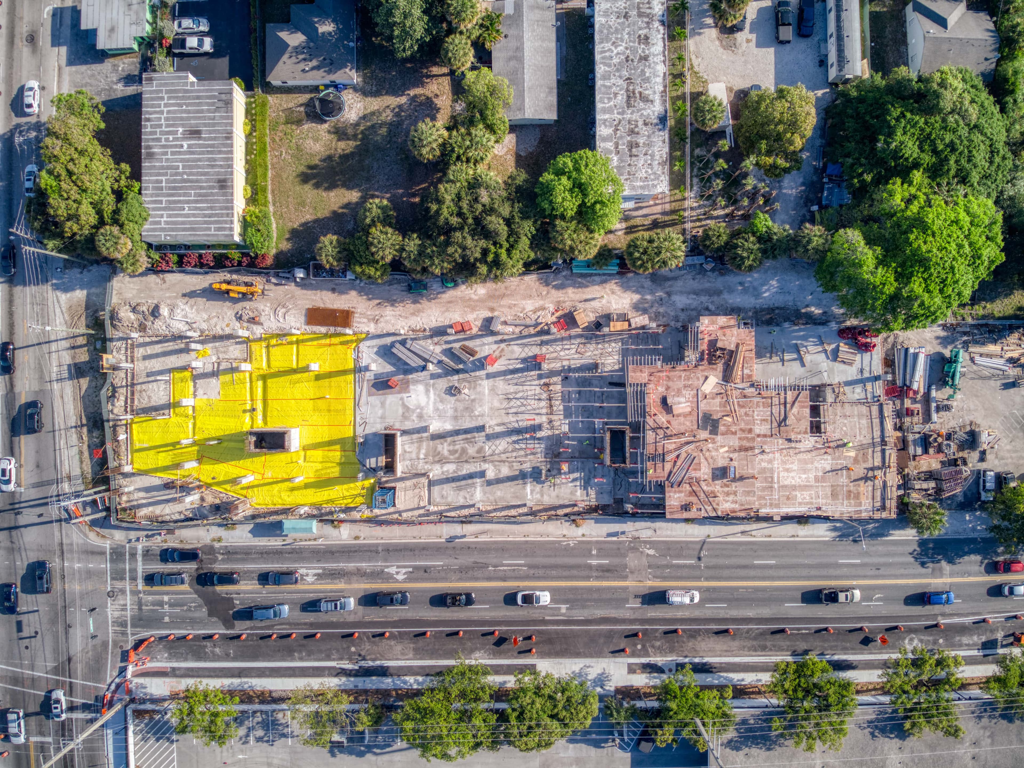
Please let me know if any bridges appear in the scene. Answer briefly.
No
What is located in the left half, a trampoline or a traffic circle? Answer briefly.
trampoline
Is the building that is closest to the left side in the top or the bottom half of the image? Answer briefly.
top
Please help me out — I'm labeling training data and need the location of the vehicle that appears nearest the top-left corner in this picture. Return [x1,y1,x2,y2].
[22,81,41,115]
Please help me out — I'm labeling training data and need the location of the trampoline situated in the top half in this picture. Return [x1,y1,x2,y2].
[311,84,346,122]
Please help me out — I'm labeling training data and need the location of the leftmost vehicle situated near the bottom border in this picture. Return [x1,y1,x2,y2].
[6,708,27,744]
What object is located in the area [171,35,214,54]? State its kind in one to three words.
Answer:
vehicle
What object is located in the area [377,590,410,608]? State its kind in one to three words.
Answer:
car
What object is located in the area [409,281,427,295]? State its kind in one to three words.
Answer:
work vehicle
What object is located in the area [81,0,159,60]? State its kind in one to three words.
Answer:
building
